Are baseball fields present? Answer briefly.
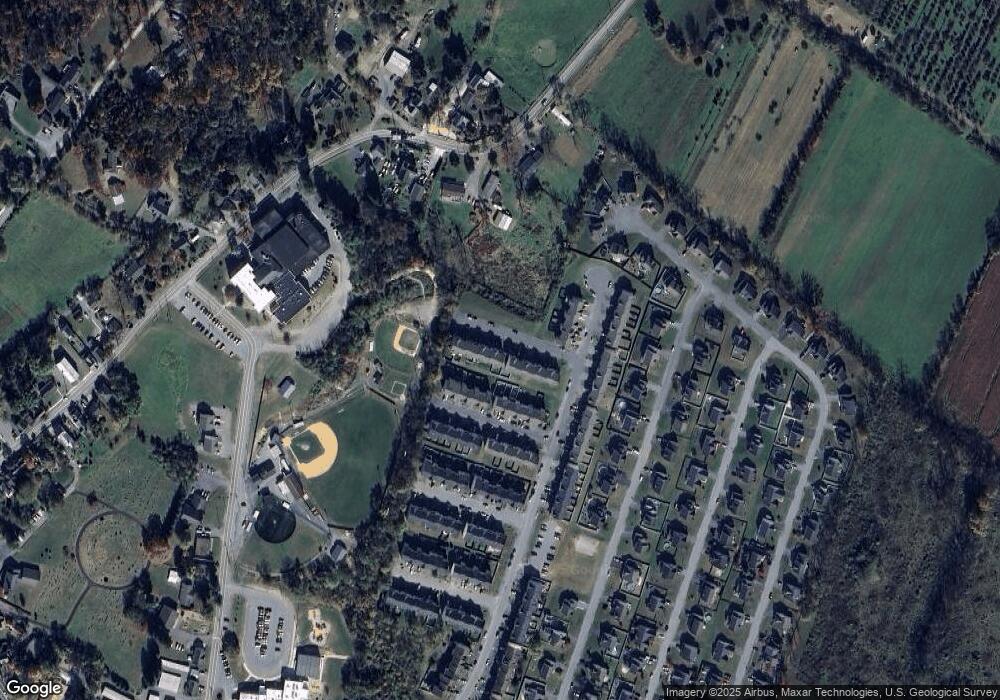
Yes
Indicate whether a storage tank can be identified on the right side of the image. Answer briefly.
No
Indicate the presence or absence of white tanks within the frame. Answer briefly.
No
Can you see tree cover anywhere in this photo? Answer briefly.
Yes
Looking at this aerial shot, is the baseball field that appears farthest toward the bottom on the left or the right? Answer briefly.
left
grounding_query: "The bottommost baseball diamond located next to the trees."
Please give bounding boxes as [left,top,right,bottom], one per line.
[280,388,397,527]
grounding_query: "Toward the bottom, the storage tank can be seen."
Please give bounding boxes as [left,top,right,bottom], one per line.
[255,502,295,543]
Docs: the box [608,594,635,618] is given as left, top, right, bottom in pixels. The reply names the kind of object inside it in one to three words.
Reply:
house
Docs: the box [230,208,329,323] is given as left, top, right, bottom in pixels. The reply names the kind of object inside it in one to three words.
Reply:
building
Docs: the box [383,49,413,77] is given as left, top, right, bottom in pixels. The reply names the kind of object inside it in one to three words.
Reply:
barn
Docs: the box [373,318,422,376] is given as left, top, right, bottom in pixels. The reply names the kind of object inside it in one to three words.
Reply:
baseball field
